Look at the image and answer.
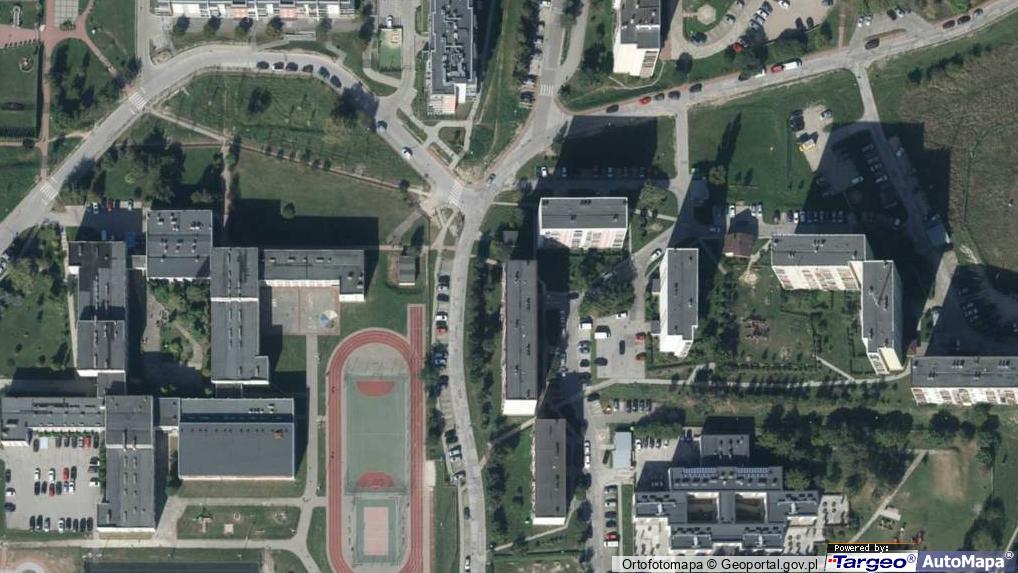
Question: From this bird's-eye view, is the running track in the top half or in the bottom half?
bottom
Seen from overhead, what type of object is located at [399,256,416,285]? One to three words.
house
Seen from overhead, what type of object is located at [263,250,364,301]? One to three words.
building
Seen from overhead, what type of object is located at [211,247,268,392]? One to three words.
building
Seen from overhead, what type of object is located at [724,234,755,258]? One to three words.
house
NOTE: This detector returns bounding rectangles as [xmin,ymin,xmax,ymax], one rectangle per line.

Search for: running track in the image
[325,303,426,573]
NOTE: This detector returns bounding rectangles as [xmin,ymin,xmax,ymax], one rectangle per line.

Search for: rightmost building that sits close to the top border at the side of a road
[615,0,660,77]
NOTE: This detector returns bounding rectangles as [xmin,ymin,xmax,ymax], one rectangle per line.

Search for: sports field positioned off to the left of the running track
[85,549,259,573]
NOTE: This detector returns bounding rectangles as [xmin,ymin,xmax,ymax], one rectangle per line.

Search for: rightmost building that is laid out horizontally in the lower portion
[910,357,1018,407]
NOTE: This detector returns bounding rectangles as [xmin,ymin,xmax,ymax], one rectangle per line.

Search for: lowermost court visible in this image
[355,497,400,565]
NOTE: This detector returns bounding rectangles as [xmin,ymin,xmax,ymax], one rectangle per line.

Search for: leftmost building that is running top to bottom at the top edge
[431,0,472,112]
